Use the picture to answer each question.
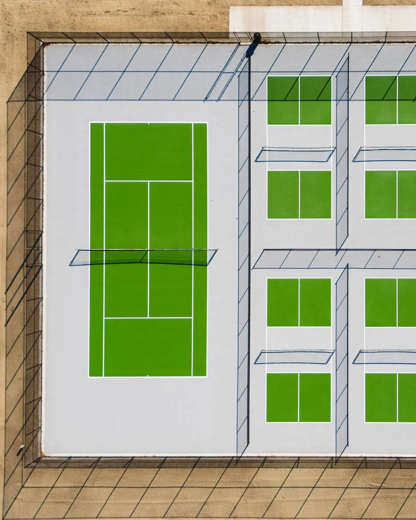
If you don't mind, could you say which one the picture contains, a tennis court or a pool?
tennis court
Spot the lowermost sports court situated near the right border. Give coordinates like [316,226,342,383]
[365,278,416,423]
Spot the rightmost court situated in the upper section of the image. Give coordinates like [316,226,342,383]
[365,75,416,218]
